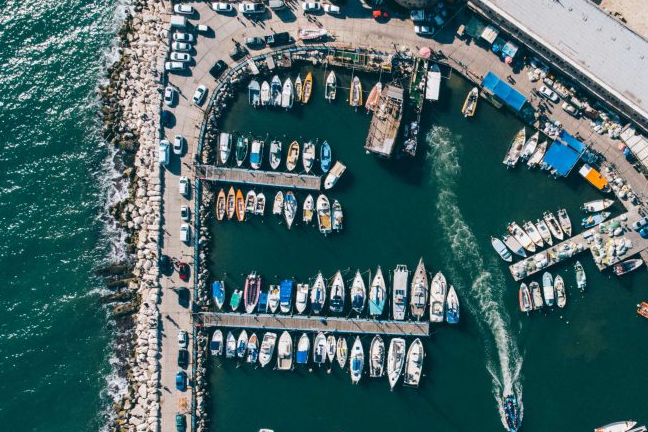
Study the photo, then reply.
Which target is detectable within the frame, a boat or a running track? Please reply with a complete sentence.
Of the two, only a boat appears.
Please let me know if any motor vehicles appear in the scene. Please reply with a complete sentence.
Yes, a motor vehicle is visible in the scene.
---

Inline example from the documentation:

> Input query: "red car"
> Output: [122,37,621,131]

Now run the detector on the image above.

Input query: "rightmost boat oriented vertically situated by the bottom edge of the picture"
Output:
[502,391,521,432]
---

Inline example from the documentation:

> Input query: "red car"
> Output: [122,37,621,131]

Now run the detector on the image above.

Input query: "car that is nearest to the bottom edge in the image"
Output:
[174,410,186,431]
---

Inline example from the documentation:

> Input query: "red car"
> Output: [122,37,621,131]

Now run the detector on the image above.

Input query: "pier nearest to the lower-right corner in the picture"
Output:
[509,210,639,280]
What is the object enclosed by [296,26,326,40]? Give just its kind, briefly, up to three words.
boat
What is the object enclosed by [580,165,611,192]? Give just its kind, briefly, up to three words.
boat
